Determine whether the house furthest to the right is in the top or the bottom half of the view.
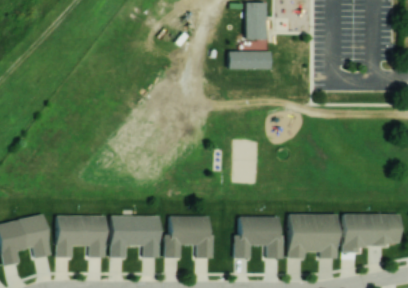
bottom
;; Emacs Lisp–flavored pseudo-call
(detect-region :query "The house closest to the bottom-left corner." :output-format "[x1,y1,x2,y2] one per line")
[0,214,52,266]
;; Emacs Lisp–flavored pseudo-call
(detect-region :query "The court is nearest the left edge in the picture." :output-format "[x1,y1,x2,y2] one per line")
[231,140,258,185]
